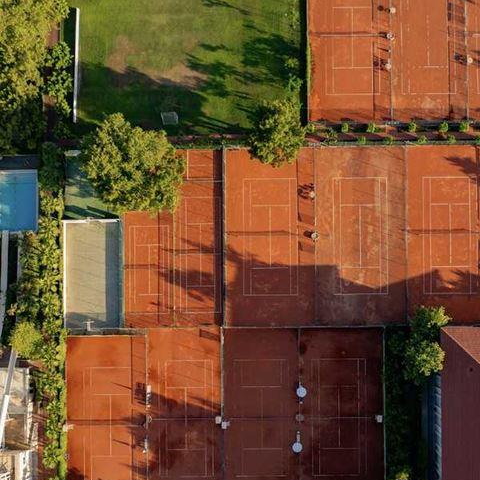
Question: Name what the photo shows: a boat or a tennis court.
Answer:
tennis court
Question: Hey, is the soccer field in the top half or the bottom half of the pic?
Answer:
top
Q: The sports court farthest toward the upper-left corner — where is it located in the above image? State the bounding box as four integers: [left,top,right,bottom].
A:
[63,152,124,220]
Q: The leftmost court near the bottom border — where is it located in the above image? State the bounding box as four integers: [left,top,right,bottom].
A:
[66,336,147,480]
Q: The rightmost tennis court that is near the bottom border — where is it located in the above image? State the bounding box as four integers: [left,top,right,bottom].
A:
[300,328,384,480]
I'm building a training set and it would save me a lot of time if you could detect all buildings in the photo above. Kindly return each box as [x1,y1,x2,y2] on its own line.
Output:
[0,366,39,480]
[429,326,480,480]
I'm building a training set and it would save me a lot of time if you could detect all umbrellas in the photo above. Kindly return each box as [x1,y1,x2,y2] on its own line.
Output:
[296,386,306,397]
[292,442,303,452]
